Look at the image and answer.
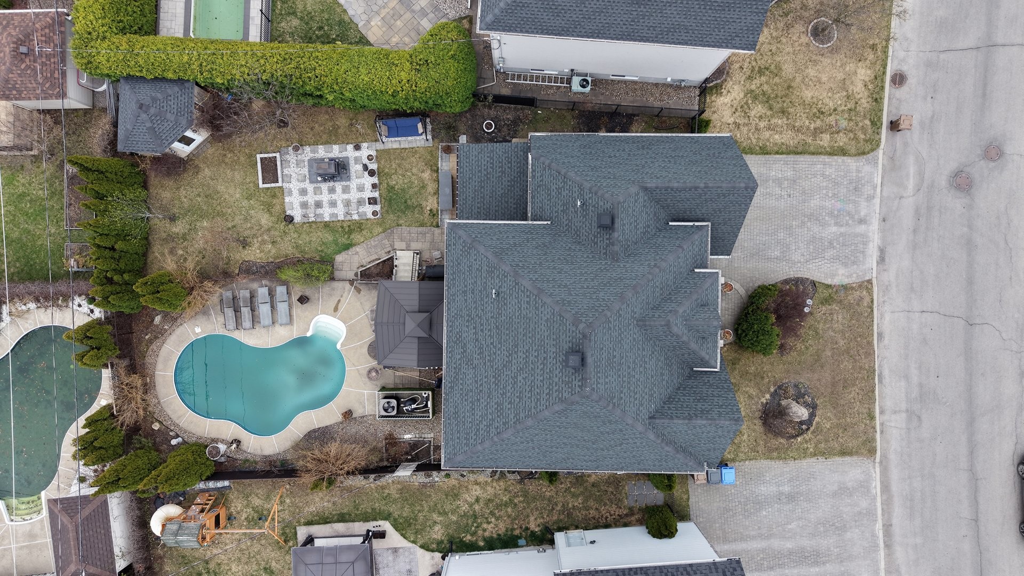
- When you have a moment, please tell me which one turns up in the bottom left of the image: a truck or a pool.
pool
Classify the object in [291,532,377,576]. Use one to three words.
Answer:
gazebo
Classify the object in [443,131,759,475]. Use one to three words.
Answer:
house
